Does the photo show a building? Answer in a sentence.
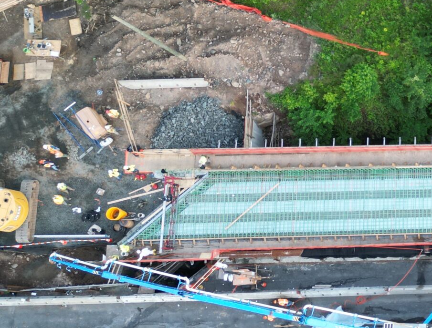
No, there appears to be no building in this shot.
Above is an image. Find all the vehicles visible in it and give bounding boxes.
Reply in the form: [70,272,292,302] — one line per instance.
[47,253,432,328]
[0,180,43,243]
